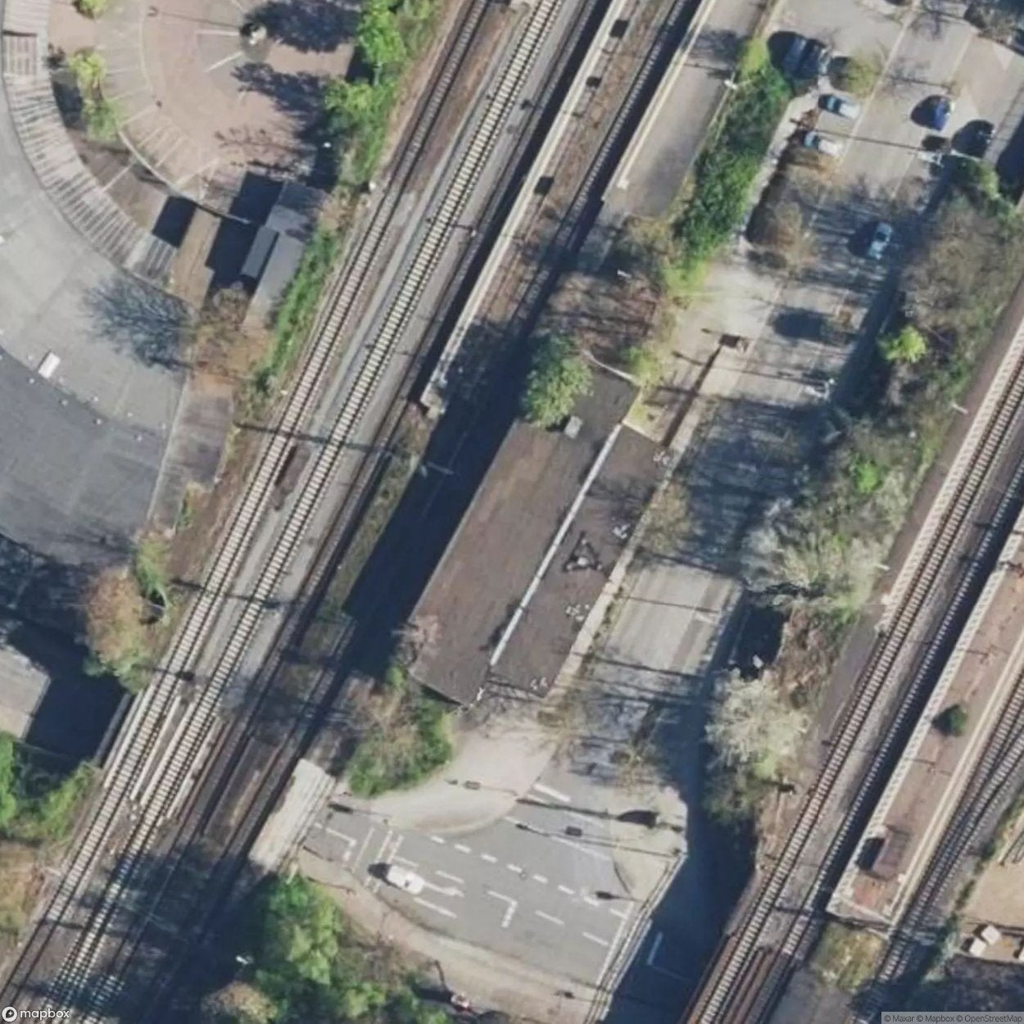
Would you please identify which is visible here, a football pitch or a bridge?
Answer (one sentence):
This aerial view contains a bridge.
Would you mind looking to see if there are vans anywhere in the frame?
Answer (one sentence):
Yes, there's a van here.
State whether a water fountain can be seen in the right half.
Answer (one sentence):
No, no water fountain appears in the right half.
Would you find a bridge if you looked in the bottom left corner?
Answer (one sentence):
Yes, you'll find a bridge in the bottom left corner.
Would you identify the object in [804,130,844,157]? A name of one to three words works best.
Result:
car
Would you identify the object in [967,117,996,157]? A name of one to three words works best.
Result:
car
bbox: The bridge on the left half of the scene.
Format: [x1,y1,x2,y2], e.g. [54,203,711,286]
[94,686,338,874]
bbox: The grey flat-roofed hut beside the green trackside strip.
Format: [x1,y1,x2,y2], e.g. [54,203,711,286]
[241,179,328,325]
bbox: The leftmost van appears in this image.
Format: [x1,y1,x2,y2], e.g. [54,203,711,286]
[383,865,426,895]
